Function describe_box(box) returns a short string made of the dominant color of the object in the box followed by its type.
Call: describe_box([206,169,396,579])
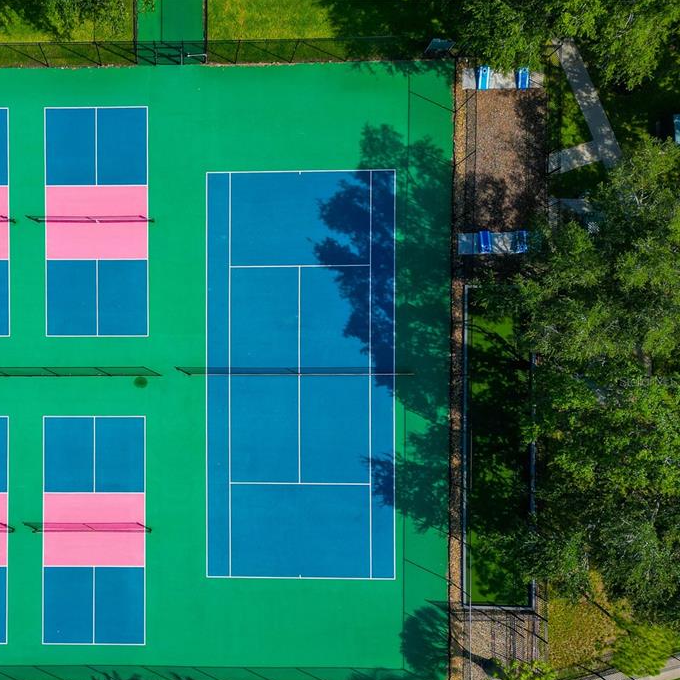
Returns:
blue tennis court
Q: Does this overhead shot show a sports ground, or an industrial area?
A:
sports ground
